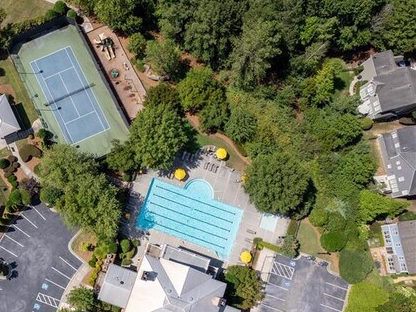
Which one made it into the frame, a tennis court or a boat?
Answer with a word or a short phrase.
tennis court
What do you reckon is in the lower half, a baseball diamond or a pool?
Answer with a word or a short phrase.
pool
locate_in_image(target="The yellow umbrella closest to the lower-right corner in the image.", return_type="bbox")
[239,250,252,263]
